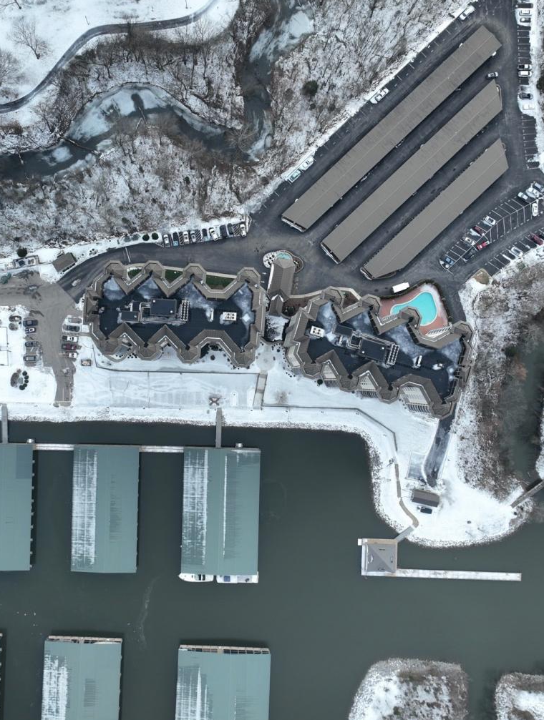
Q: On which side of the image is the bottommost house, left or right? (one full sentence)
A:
You can find the bottommost house on the right side of the picture.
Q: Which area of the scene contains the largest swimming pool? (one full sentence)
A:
You can find the largest swimming pool in the right area of the picture.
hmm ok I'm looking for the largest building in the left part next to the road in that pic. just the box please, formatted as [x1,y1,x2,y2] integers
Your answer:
[89,261,268,368]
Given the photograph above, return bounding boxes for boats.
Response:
[179,573,213,582]
[218,574,257,584]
